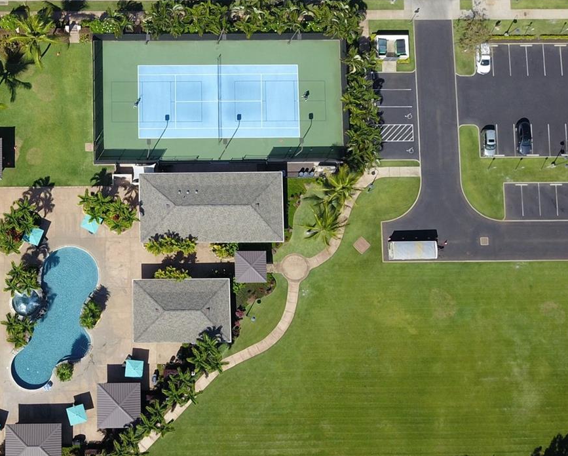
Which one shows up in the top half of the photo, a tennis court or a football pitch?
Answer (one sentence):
It is a tennis court that can be seen in the top half of the photo.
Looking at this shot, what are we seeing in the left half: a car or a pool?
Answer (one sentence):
What appears in the left half is a pool.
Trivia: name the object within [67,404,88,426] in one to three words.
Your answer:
umbrella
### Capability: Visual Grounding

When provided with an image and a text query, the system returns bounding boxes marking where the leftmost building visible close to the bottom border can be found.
[5,423,62,456]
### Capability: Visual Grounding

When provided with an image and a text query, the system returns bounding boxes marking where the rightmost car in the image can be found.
[516,122,535,156]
